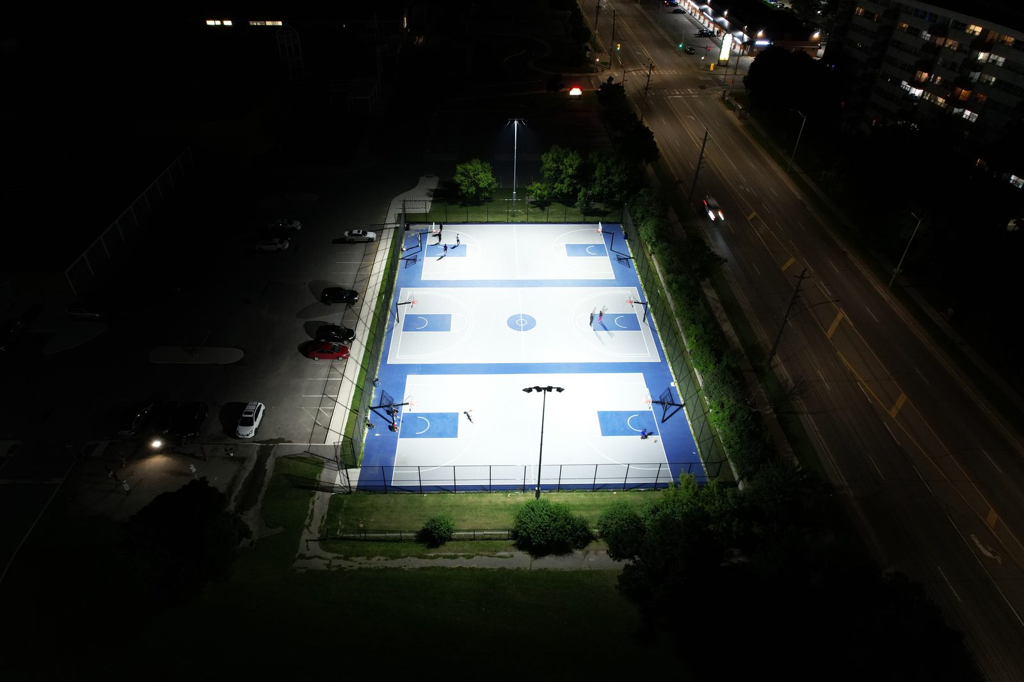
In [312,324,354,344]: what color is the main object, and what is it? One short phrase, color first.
black car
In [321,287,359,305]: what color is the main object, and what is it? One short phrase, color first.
black car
